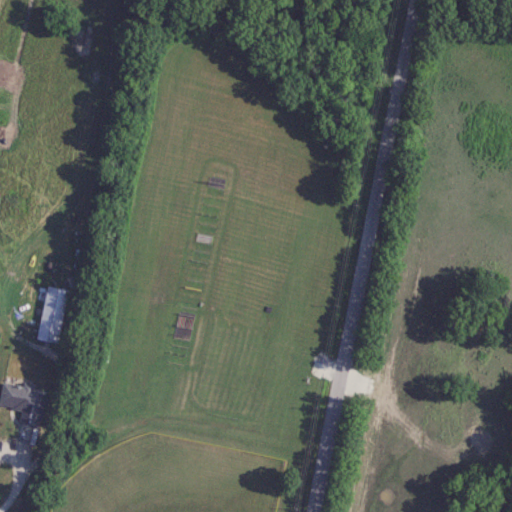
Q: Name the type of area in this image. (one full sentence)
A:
It's a sports ground.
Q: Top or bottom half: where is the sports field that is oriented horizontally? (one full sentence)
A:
The bottom half of the photo is where the sports field that is oriented horizontally is.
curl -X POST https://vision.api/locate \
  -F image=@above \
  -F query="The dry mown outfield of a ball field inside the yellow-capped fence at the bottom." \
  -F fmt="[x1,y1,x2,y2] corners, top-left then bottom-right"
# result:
[56,434,284,512]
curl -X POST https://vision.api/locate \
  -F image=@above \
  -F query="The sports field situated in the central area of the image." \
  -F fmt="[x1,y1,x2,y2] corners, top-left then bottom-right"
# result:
[98,42,354,461]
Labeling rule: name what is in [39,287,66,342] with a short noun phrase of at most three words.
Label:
barn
